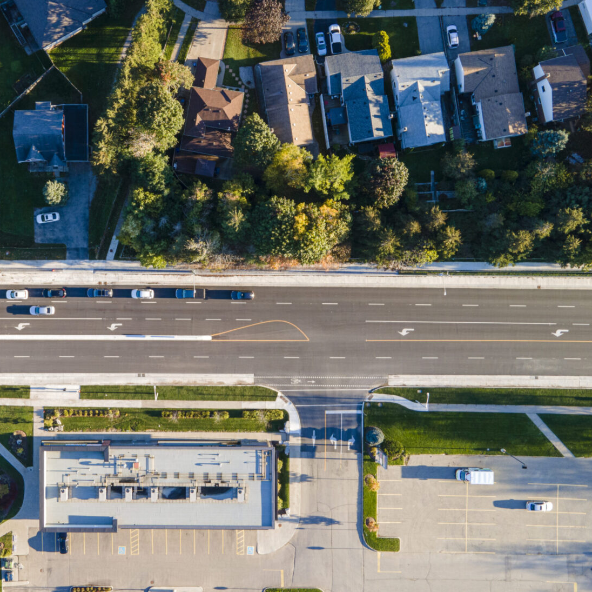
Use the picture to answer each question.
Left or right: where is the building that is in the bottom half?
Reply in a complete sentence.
It is on the left.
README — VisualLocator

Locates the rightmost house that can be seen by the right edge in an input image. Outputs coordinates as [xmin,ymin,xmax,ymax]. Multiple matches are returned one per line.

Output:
[527,51,592,121]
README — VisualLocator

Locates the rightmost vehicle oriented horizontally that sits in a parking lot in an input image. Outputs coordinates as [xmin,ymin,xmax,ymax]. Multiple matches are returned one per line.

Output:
[526,500,551,512]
